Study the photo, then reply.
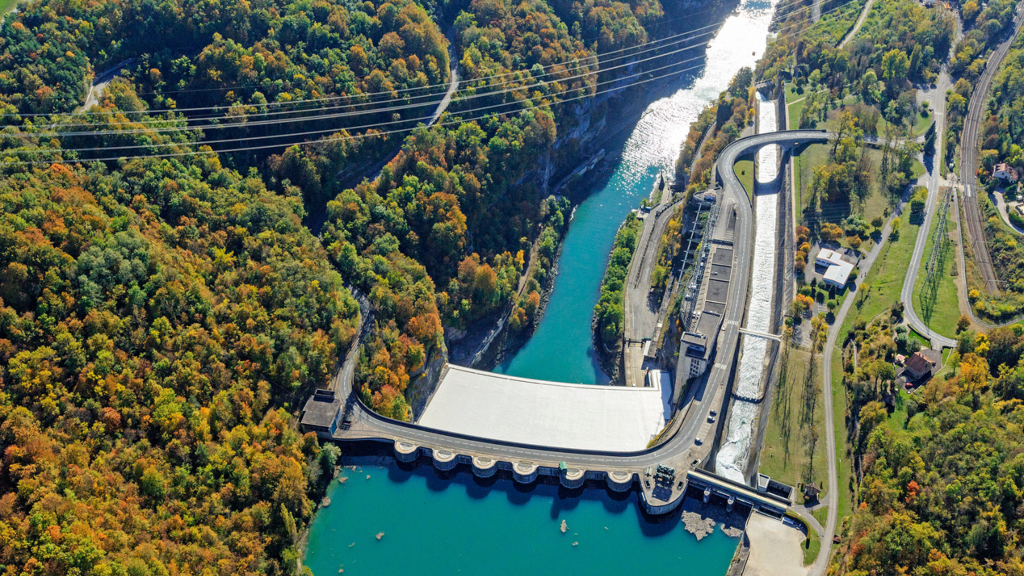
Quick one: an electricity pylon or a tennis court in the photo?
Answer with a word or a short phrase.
electricity pylon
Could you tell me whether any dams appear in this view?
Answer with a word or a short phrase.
Yes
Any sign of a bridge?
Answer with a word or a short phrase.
Yes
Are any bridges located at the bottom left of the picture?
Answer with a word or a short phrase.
No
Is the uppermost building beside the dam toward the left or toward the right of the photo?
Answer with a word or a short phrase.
right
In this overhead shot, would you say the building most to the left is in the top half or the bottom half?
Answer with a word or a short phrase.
bottom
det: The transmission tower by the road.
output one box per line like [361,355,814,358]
[919,184,971,301]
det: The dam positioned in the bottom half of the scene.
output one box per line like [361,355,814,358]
[334,383,707,516]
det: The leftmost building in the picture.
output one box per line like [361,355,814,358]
[301,389,341,443]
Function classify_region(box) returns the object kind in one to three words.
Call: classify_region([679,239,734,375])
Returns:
building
